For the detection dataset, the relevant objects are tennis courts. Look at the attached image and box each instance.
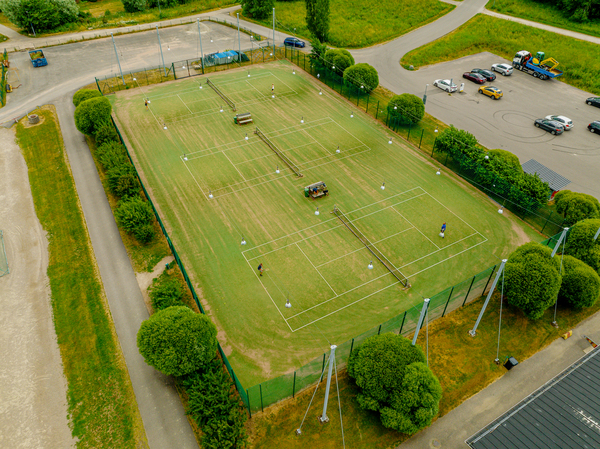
[139,71,301,128]
[177,115,374,202]
[237,184,493,336]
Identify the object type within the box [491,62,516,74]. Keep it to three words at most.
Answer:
vehicle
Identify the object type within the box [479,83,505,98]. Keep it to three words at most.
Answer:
car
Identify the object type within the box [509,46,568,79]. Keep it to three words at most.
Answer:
truck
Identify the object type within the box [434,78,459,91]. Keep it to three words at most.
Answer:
vehicle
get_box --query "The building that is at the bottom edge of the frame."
[463,346,600,449]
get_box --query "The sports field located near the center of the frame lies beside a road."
[104,58,557,412]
